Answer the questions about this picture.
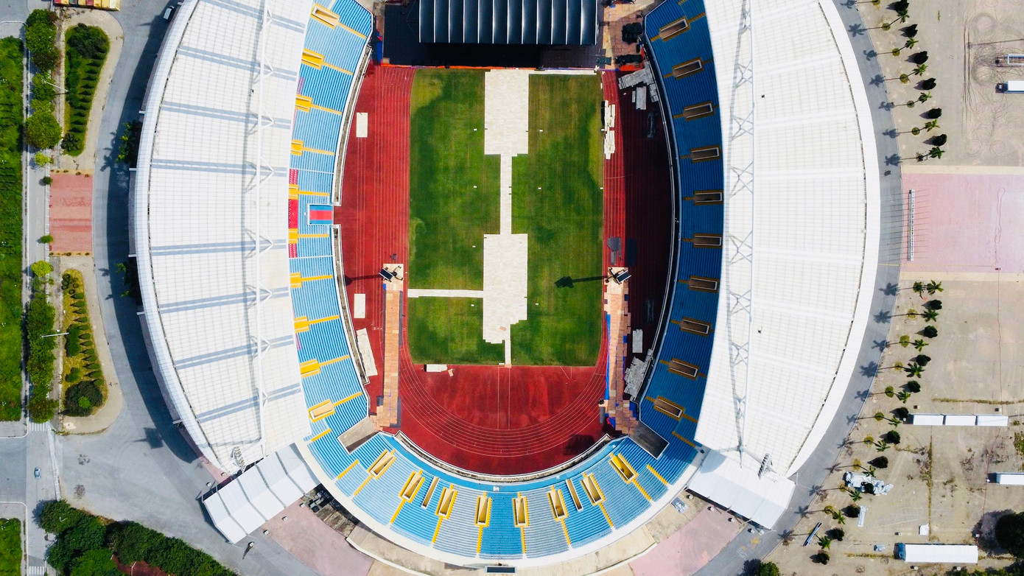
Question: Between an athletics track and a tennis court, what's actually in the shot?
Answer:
athletics track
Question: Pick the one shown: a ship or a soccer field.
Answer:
soccer field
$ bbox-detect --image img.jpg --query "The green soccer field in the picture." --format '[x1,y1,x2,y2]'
[409,67,604,367]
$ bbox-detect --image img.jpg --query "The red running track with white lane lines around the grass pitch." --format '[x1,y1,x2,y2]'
[333,17,672,470]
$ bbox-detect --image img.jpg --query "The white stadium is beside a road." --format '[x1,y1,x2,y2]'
[128,0,877,576]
